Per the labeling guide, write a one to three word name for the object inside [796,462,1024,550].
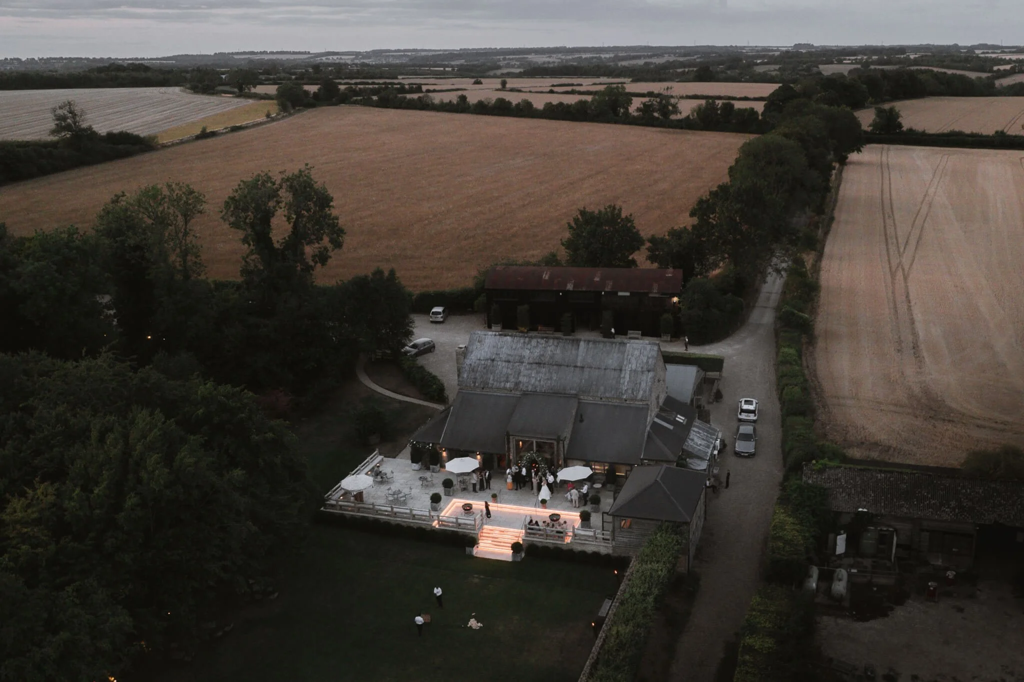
shed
